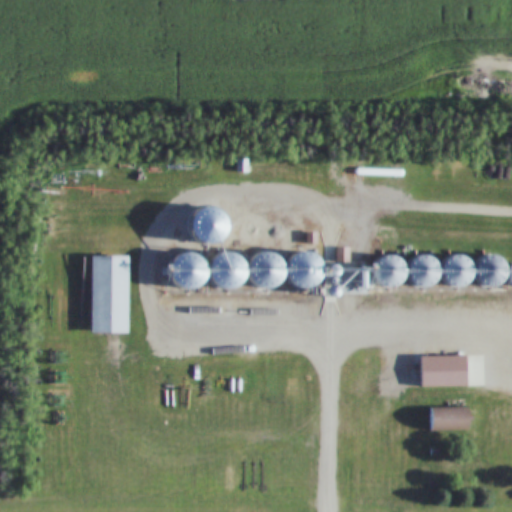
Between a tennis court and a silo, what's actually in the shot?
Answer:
silo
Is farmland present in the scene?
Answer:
Yes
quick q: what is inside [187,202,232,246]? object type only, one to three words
silo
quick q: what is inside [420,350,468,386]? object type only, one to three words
house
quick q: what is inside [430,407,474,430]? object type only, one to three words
barn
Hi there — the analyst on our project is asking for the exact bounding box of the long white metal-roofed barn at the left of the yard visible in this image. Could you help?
[90,255,130,334]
